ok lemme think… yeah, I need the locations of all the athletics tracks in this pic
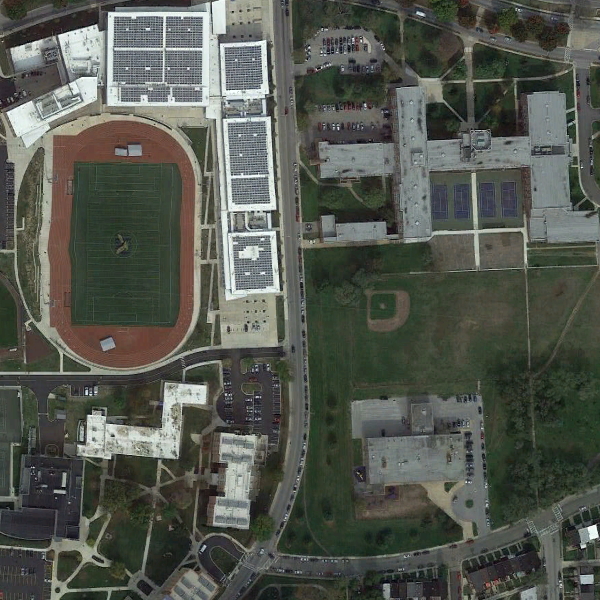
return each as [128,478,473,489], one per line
[48,121,195,367]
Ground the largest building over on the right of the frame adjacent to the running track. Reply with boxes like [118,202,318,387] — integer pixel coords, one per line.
[309,87,599,244]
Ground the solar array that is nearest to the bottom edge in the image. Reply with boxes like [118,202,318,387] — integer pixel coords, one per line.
[233,236,273,289]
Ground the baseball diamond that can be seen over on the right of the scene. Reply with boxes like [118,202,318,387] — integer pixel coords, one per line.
[365,290,410,332]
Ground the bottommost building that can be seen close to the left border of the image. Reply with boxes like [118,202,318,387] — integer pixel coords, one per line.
[0,455,84,540]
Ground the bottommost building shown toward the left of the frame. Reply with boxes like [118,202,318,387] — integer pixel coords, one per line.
[166,568,219,600]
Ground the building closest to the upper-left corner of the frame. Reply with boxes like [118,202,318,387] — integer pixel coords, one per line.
[6,35,59,74]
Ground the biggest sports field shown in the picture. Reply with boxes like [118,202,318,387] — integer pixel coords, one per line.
[69,163,182,327]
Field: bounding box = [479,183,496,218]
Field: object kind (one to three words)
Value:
tennis court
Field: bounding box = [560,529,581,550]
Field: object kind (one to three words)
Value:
house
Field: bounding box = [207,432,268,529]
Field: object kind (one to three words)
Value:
building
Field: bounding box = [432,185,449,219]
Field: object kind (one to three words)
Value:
tennis court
